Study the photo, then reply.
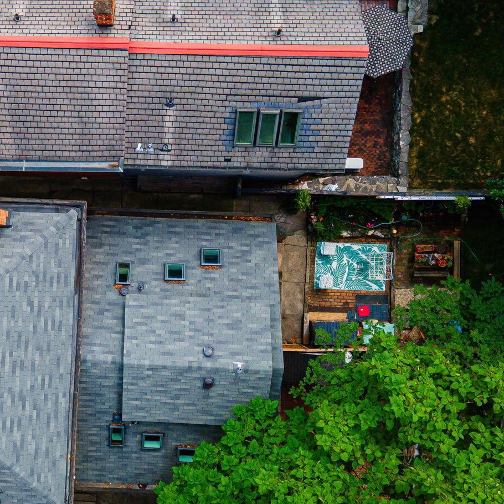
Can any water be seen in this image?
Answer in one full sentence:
No, the scene doesn't show any water.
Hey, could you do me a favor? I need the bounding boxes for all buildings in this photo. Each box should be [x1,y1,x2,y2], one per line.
[0,196,284,504]
[0,0,370,179]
